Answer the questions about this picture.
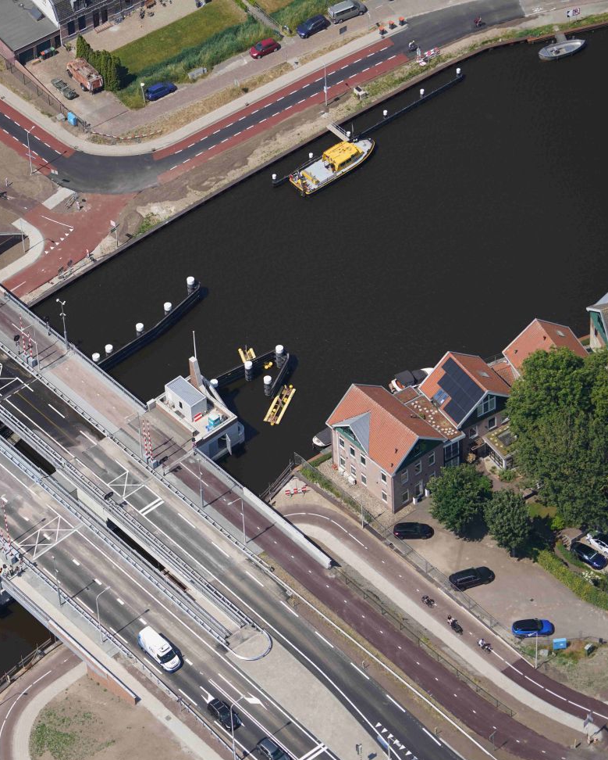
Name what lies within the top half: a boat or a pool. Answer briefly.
boat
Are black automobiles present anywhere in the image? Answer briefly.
Yes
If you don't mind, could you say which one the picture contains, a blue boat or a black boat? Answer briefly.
black boat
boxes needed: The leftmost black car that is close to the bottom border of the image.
[201,691,248,733]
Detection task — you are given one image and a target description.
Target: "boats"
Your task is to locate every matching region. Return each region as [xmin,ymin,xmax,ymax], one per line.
[307,421,329,448]
[537,39,584,59]
[387,363,432,390]
[286,133,373,198]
